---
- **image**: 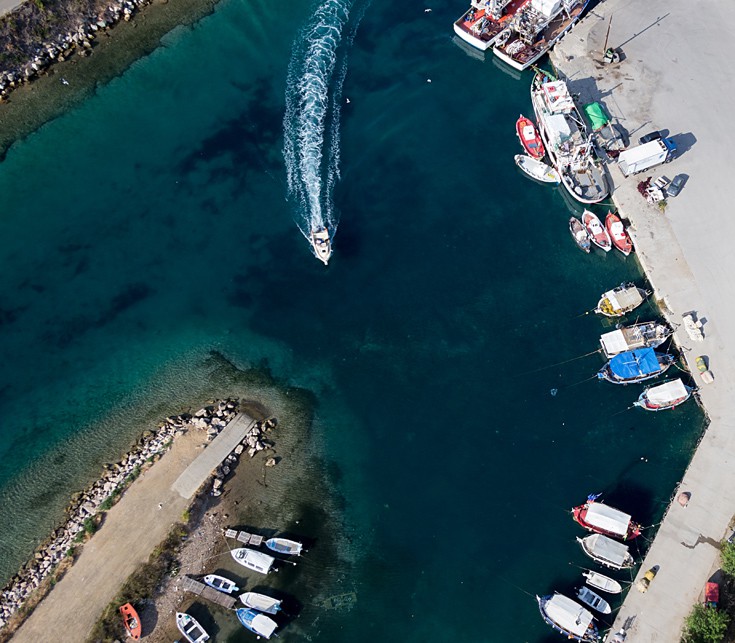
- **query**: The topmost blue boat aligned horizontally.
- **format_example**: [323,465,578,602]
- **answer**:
[598,346,675,385]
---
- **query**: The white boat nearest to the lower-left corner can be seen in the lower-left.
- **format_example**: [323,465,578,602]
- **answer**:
[176,611,209,643]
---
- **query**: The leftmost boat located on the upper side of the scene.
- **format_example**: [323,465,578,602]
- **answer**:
[306,228,328,266]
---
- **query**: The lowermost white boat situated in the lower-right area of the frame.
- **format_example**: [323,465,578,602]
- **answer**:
[535,589,605,637]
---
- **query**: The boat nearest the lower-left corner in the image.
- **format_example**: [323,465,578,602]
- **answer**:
[121,602,138,638]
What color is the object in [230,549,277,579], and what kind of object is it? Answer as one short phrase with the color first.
white boat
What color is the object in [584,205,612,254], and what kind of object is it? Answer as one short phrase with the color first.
white boat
